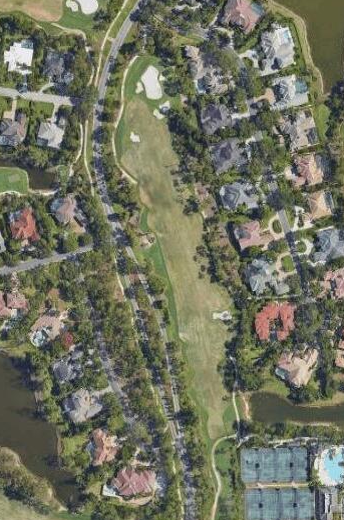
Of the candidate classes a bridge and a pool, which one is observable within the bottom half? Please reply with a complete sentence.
What appears within the bottom half is a pool.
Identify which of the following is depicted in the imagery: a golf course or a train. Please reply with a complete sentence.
Visible in the photo is a golf course.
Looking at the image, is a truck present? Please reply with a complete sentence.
No, the scene contains no truck.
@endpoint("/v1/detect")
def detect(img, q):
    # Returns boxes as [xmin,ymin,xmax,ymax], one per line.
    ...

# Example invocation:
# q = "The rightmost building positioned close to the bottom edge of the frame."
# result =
[313,489,330,520]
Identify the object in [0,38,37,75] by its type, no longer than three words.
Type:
house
